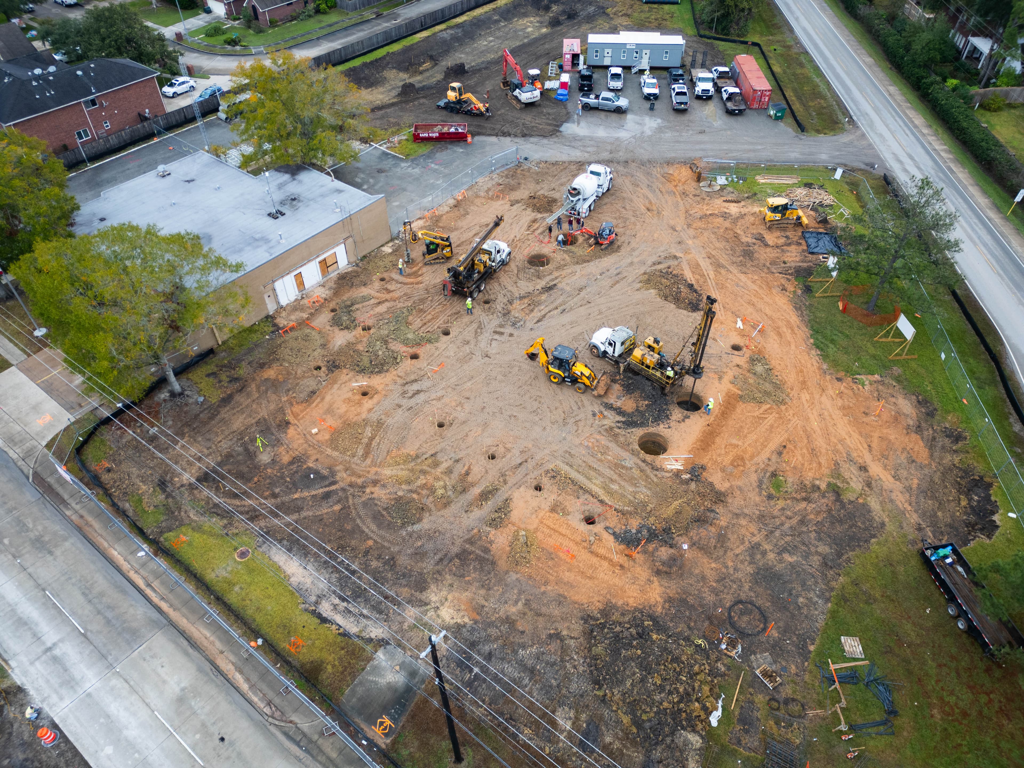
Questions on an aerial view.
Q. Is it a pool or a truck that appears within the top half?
truck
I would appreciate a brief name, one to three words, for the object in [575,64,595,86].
vehicle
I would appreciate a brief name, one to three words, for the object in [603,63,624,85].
truck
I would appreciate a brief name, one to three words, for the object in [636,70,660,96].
truck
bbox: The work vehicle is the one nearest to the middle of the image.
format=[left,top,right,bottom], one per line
[522,330,620,403]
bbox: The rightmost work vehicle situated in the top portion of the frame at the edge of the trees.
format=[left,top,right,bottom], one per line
[759,190,813,230]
